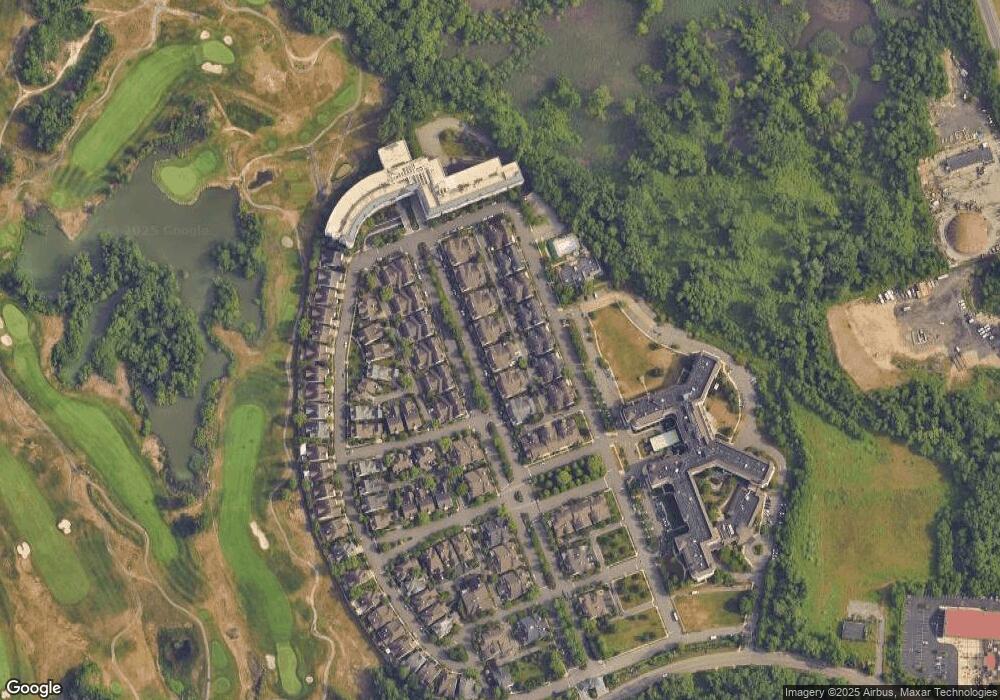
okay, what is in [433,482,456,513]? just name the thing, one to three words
house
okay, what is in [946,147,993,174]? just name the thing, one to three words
shed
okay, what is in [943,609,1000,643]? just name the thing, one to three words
building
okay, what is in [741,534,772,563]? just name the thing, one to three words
roundabout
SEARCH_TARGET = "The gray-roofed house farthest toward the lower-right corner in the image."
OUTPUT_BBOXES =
[843,623,866,641]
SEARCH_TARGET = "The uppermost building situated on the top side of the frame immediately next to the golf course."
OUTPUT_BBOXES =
[325,141,524,251]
